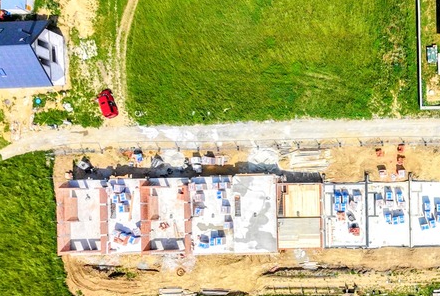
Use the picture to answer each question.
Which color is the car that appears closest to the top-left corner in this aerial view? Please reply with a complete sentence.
The car that appears closest to the top-left corner looks red in the image.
